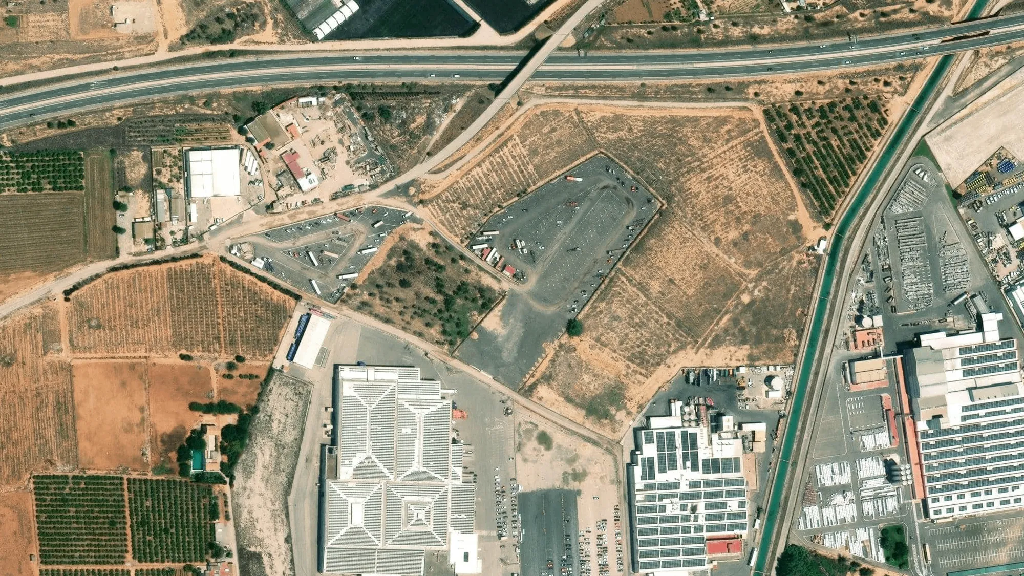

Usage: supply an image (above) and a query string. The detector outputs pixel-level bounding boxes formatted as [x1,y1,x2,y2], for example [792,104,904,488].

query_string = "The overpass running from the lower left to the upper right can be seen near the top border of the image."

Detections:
[383,0,603,194]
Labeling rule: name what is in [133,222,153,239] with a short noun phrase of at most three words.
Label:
barn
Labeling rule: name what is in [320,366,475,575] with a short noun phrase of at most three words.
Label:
building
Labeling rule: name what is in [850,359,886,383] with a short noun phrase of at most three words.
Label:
building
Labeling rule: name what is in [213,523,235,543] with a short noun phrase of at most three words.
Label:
house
